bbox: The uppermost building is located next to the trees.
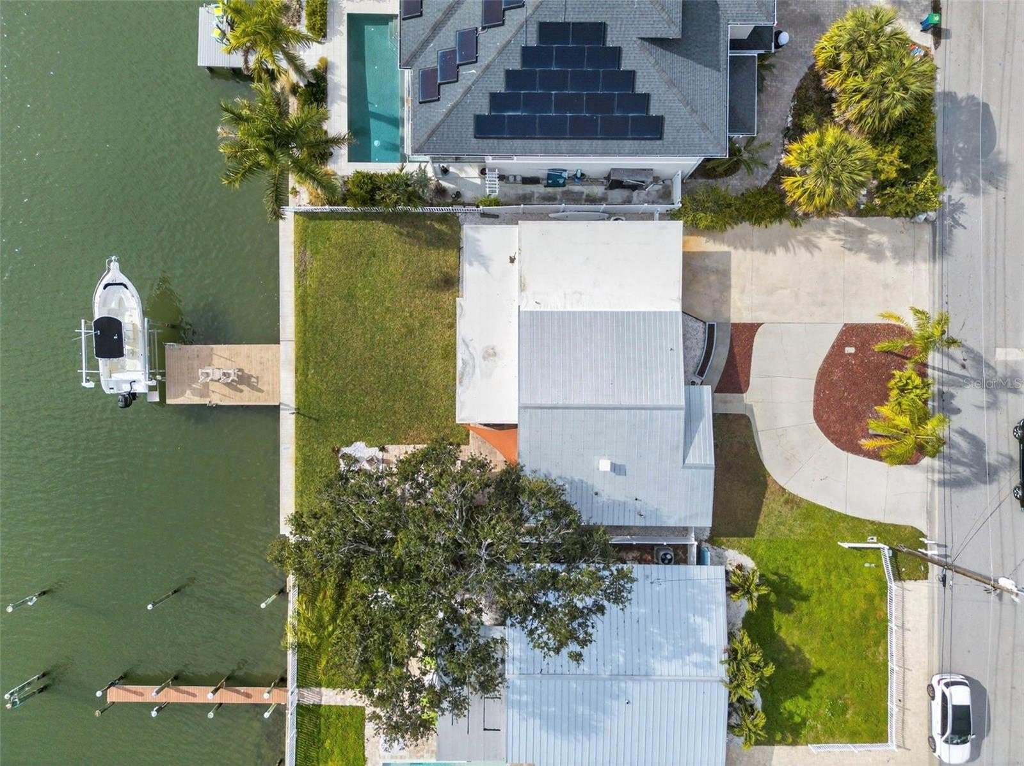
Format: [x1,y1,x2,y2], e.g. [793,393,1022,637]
[397,0,779,182]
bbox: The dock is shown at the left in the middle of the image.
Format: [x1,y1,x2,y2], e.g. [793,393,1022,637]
[165,344,281,408]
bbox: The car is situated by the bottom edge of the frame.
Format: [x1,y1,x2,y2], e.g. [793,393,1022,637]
[928,674,976,762]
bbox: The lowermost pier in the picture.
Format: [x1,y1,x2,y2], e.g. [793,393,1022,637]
[107,680,287,703]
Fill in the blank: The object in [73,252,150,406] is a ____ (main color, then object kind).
white boat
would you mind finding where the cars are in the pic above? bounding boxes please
[1013,419,1024,514]
[928,674,976,762]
